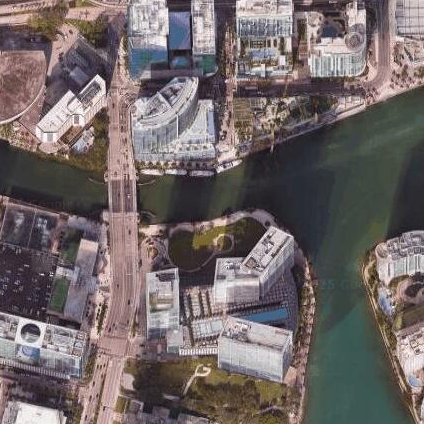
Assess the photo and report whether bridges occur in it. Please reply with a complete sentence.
Yes, looking at the shot, I can spot a bridge.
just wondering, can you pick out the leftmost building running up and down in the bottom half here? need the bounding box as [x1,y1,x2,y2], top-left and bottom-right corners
[54,238,99,328]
